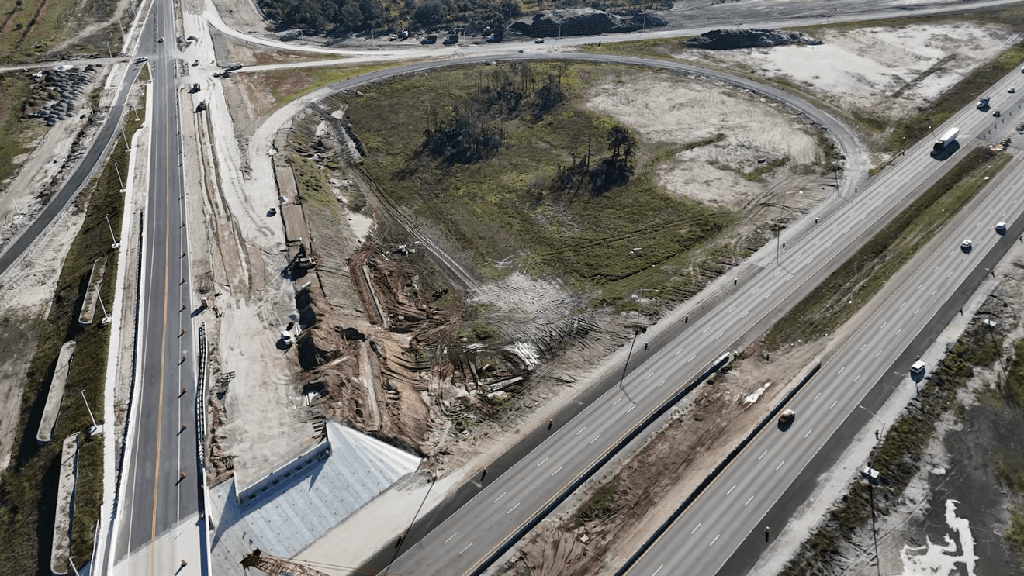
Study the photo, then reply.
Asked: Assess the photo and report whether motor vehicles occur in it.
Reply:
Yes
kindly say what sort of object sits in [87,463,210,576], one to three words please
bridge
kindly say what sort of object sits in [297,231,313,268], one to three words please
work vehicle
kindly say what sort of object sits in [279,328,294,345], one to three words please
vehicle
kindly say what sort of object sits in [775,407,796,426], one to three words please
vehicle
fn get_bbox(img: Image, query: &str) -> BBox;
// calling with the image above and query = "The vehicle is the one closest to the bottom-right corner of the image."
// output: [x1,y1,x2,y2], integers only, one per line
[910,359,928,376]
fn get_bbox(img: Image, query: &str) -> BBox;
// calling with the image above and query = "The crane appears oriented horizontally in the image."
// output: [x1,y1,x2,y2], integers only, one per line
[238,554,319,576]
